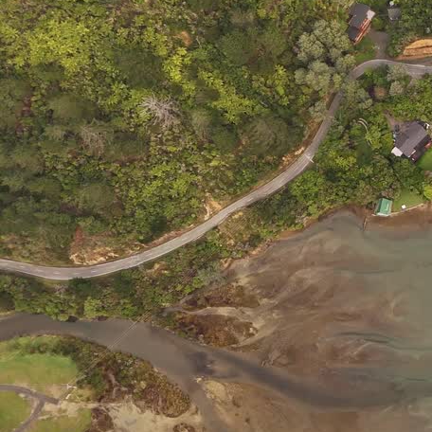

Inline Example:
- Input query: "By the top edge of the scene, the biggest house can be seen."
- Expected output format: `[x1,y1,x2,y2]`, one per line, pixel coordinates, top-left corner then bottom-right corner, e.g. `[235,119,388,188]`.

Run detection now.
[346,2,375,44]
